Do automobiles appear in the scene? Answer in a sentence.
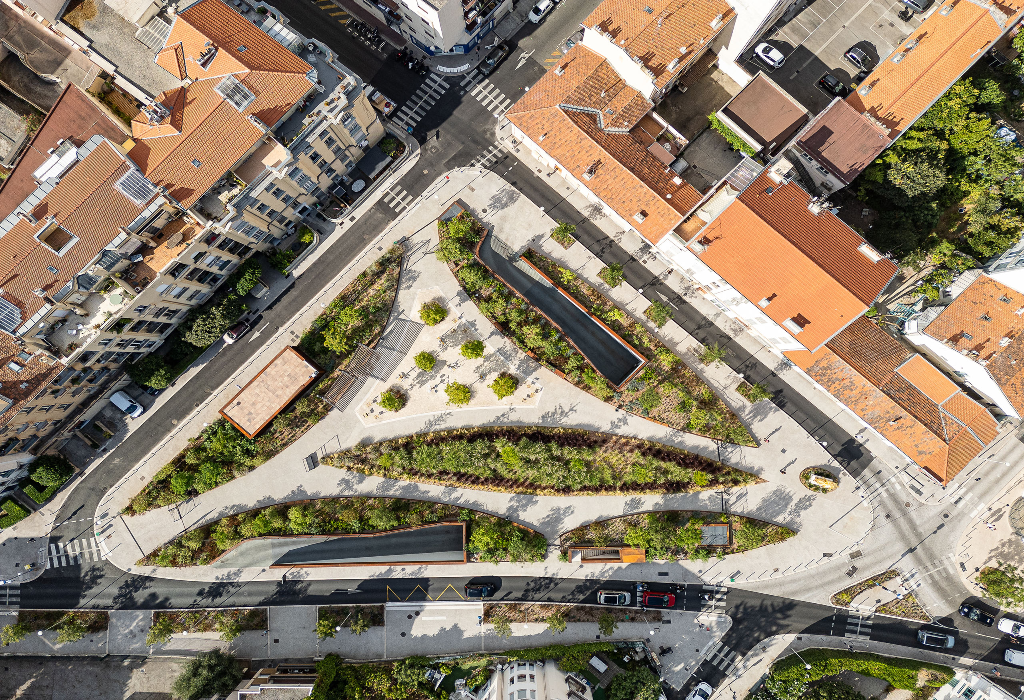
Yes, there's an automobile down there.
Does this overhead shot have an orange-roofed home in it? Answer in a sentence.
Yes, the image includes an orange-roofed home.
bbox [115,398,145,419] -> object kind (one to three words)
vehicle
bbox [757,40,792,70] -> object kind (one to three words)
car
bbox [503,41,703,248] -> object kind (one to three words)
house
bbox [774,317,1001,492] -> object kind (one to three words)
house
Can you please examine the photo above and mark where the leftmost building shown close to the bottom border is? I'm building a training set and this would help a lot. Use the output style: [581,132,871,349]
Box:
[237,648,337,700]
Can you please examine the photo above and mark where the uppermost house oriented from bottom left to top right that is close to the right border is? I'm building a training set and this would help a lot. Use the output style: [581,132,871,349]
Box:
[842,0,1003,135]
